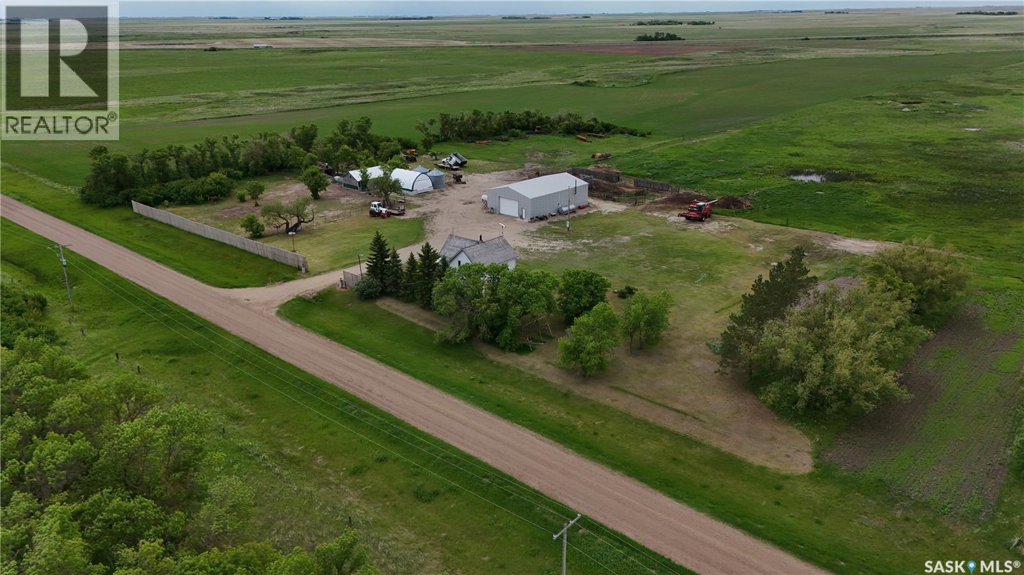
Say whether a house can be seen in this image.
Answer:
Yes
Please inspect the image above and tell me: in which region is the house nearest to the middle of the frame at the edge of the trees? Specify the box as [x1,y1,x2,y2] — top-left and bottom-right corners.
[440,223,519,277]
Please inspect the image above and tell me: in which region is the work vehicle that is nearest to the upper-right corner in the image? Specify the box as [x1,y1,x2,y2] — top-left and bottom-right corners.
[680,199,724,226]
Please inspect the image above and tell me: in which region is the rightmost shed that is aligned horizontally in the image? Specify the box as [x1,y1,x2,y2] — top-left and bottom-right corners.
[486,173,591,222]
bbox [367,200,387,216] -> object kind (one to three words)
work vehicle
